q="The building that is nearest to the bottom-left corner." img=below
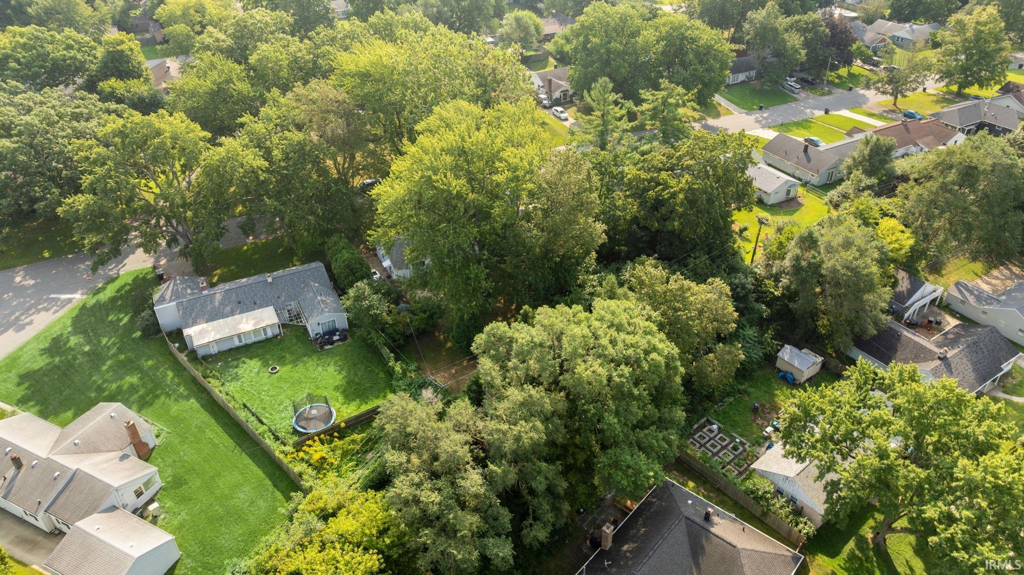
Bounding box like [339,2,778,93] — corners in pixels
[0,399,178,575]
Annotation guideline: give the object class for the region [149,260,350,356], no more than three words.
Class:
house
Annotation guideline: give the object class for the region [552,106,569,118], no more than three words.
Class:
vehicle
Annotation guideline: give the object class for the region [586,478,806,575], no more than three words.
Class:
house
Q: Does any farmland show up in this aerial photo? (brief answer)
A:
No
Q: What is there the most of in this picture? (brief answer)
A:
trees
